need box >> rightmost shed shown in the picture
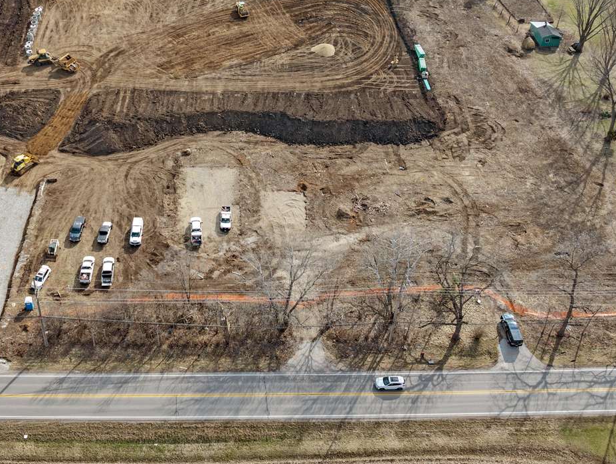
[534,16,563,48]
